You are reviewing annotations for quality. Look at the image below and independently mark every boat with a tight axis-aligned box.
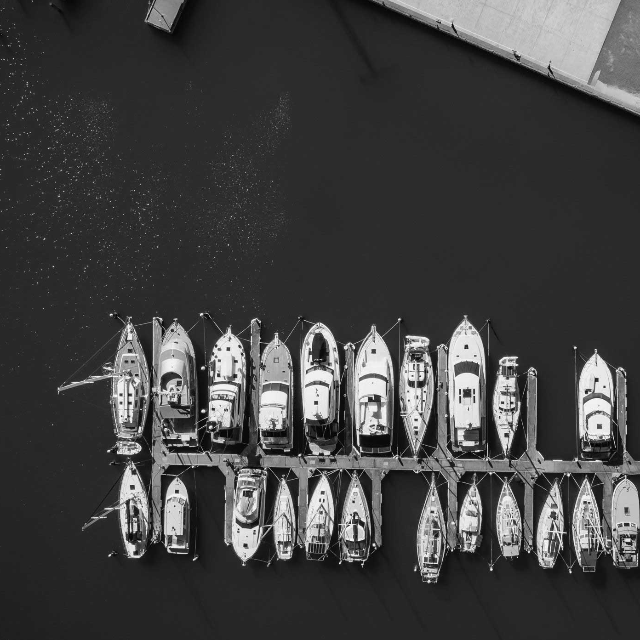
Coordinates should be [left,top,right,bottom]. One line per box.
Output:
[403,336,430,348]
[400,340,438,459]
[259,470,300,560]
[493,473,524,564]
[164,470,193,555]
[257,321,299,452]
[301,470,336,561]
[492,365,530,459]
[301,320,346,456]
[572,473,612,573]
[500,356,519,365]
[56,317,154,457]
[578,346,618,458]
[417,468,448,584]
[115,442,141,455]
[457,475,485,554]
[231,467,267,568]
[81,459,152,558]
[533,474,572,569]
[355,321,394,456]
[157,317,207,447]
[337,469,372,563]
[447,312,487,459]
[612,473,640,568]
[198,314,250,449]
